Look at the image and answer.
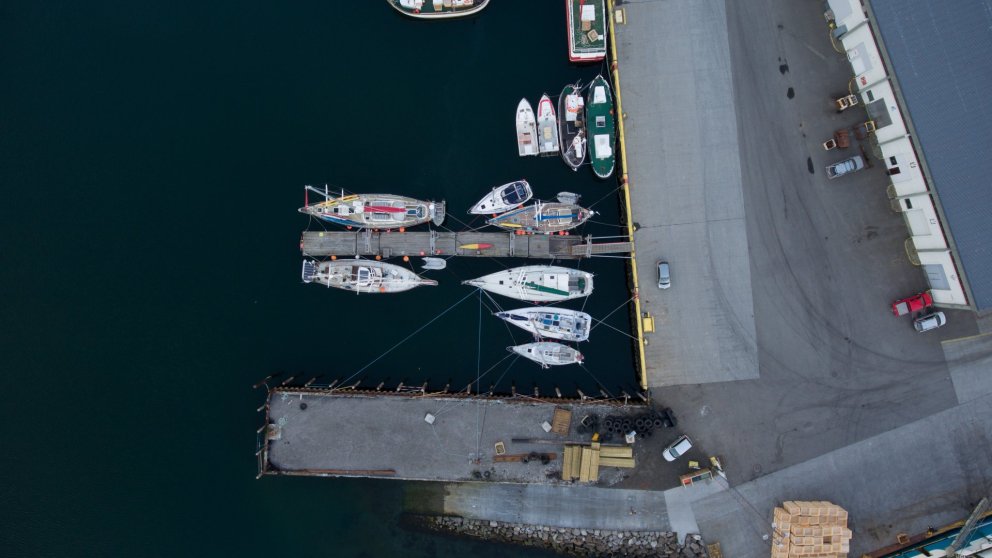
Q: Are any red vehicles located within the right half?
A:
Yes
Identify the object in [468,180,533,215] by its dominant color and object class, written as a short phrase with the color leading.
white boat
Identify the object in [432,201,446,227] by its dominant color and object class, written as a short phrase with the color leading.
gray boat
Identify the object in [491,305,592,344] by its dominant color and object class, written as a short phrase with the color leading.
white boat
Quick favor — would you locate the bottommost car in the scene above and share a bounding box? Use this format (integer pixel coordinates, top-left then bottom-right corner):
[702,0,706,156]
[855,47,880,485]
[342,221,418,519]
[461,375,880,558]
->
[664,437,694,461]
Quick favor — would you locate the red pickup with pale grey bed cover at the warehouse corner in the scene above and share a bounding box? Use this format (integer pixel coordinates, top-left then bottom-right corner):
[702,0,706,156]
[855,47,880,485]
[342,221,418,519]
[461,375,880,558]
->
[894,292,935,314]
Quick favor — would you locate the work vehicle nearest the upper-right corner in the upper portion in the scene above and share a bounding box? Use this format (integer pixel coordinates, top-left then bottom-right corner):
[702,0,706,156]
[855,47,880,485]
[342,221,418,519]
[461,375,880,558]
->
[838,95,859,108]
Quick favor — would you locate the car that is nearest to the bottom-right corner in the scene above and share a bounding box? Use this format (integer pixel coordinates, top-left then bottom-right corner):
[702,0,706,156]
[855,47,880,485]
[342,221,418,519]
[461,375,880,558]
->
[914,313,948,332]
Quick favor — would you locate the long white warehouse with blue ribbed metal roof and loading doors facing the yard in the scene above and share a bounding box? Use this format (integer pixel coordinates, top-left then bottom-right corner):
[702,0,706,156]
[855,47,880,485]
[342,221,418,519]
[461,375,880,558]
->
[830,0,992,311]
